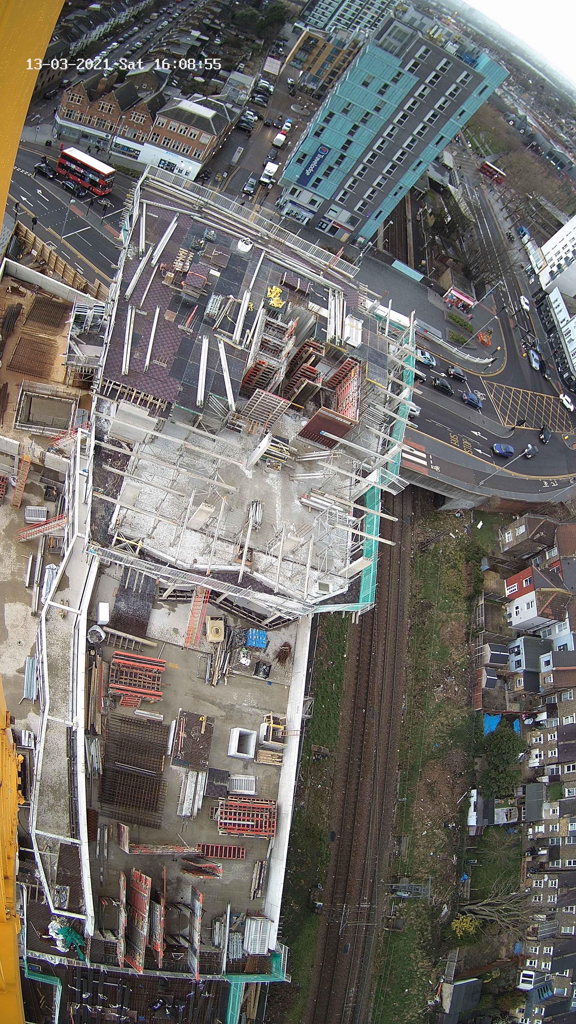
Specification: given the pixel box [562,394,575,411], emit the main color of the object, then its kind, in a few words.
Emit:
white vehicle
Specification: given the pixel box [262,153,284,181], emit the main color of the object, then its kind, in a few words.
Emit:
white vehicle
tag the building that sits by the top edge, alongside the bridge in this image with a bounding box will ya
[278,21,507,250]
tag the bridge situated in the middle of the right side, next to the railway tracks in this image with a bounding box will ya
[378,331,495,515]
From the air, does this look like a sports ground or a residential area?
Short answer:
residential area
